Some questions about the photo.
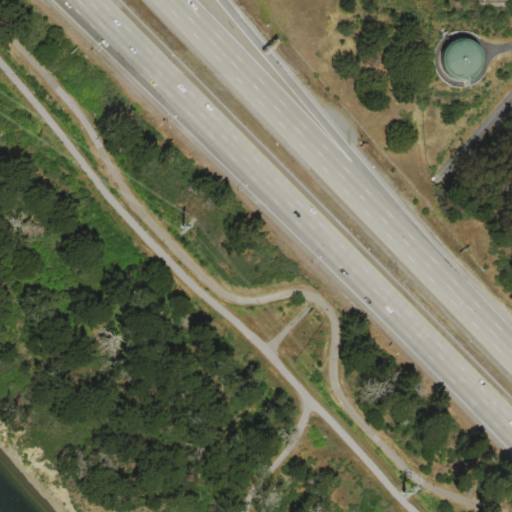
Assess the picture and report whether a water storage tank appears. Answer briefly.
Yes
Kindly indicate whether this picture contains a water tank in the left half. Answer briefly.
No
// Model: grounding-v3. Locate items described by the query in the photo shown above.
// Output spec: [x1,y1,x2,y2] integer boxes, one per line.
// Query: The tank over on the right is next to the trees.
[442,39,484,80]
